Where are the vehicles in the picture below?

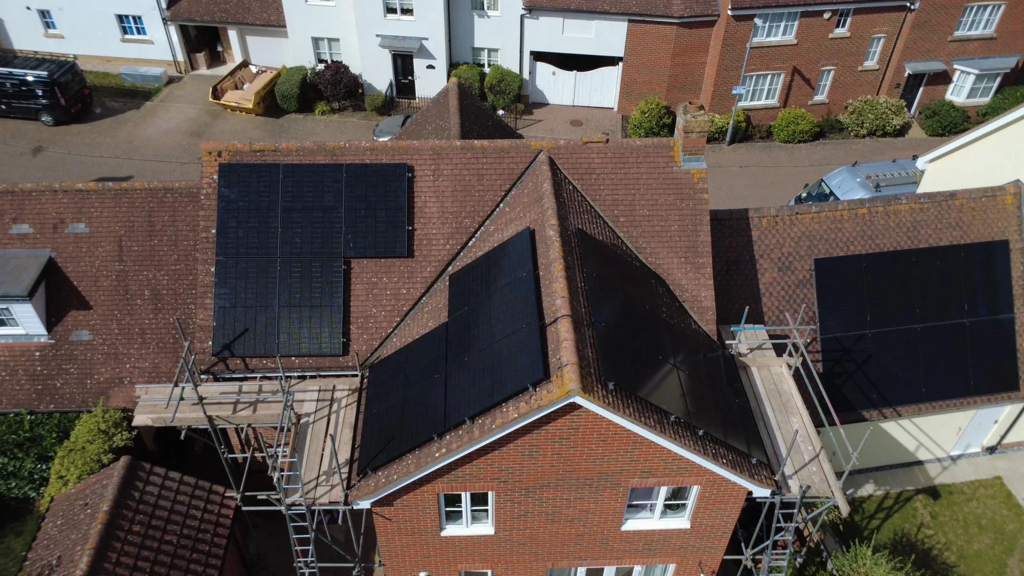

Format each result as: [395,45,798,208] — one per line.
[772,152,923,203]
[0,57,96,129]
[373,105,425,144]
